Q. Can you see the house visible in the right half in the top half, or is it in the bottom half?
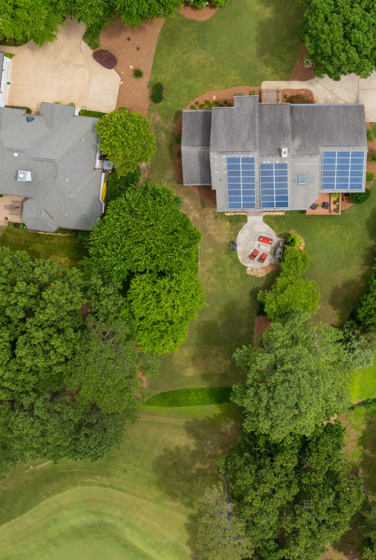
top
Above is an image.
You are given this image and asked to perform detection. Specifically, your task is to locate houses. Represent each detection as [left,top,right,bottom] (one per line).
[0,51,105,233]
[181,95,367,213]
